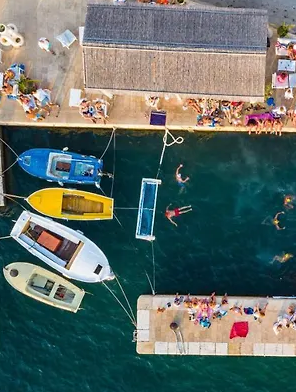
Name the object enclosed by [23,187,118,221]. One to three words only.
boat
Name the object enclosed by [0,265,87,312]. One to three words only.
boat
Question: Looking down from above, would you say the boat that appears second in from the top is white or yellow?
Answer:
yellow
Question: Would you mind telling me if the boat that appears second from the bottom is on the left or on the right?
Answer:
left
